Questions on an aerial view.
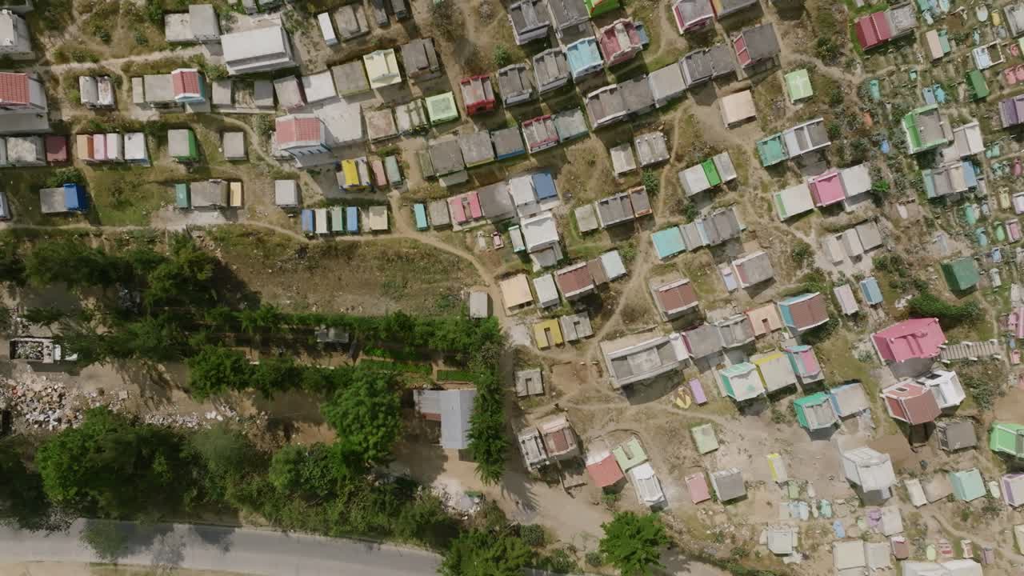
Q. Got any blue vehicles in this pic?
No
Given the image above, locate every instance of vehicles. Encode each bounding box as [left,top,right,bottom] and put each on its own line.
[9,339,88,364]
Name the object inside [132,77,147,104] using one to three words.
building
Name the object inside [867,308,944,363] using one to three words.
building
